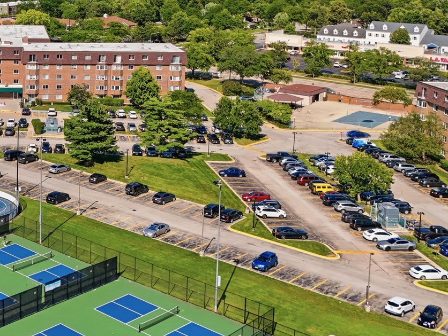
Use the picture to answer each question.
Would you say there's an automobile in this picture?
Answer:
Yes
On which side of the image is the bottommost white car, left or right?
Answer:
right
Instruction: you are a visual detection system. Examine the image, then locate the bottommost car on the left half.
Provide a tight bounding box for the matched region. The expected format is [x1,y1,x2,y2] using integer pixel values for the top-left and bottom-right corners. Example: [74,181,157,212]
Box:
[143,223,171,239]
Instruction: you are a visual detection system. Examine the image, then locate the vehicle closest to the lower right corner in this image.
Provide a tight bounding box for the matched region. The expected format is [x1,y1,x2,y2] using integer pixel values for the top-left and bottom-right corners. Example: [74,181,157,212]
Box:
[417,304,445,330]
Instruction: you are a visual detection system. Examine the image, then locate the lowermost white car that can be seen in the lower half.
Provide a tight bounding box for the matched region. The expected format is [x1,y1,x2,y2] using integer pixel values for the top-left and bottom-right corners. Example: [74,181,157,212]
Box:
[384,297,414,319]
